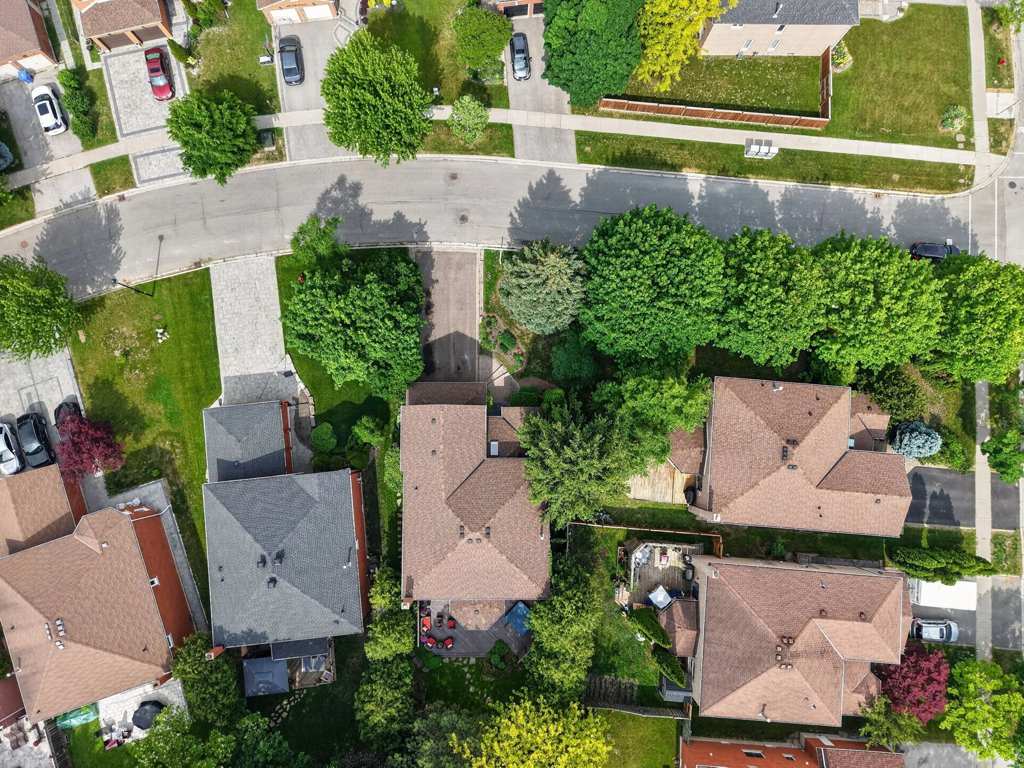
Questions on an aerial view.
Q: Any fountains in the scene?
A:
No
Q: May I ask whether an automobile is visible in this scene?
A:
Yes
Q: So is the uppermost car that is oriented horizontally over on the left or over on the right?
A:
right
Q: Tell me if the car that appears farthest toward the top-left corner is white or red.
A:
white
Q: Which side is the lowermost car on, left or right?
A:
right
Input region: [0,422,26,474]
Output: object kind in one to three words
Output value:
car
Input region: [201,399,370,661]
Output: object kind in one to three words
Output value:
house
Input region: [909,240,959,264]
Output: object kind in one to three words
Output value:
car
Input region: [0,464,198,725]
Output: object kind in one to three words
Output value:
house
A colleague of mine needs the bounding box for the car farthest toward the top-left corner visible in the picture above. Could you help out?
[32,87,67,135]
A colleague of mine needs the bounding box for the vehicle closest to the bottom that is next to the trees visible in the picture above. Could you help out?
[909,618,960,644]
